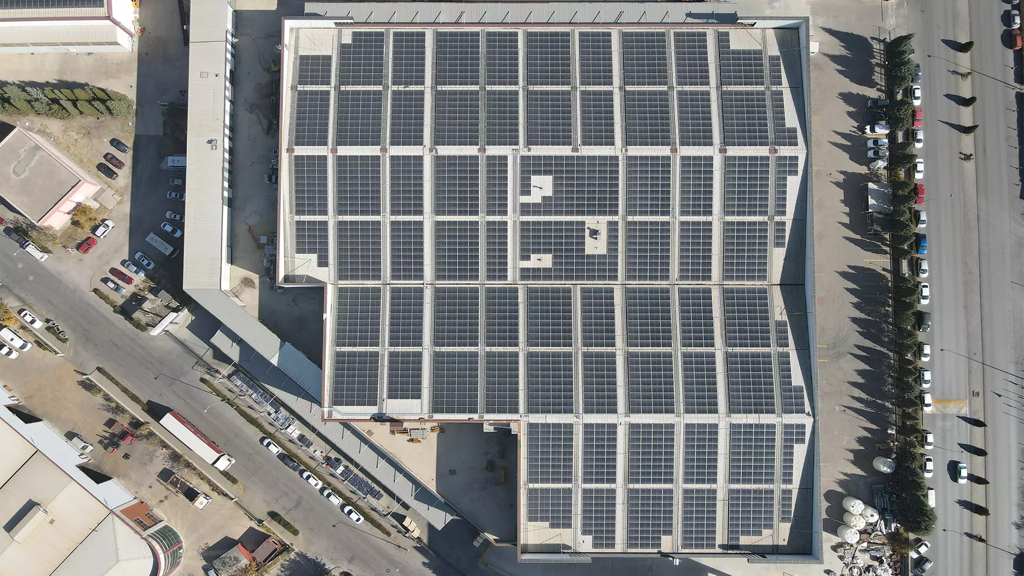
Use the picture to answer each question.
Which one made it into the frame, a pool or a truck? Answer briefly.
truck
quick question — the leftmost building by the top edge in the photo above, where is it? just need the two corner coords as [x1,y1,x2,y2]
[0,0,141,56]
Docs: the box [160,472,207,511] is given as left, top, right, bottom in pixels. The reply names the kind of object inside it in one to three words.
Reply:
truck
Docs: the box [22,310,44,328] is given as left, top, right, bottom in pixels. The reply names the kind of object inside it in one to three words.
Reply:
car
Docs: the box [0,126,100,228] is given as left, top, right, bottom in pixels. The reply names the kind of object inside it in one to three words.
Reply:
building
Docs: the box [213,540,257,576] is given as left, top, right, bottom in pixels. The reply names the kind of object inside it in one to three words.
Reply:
shed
